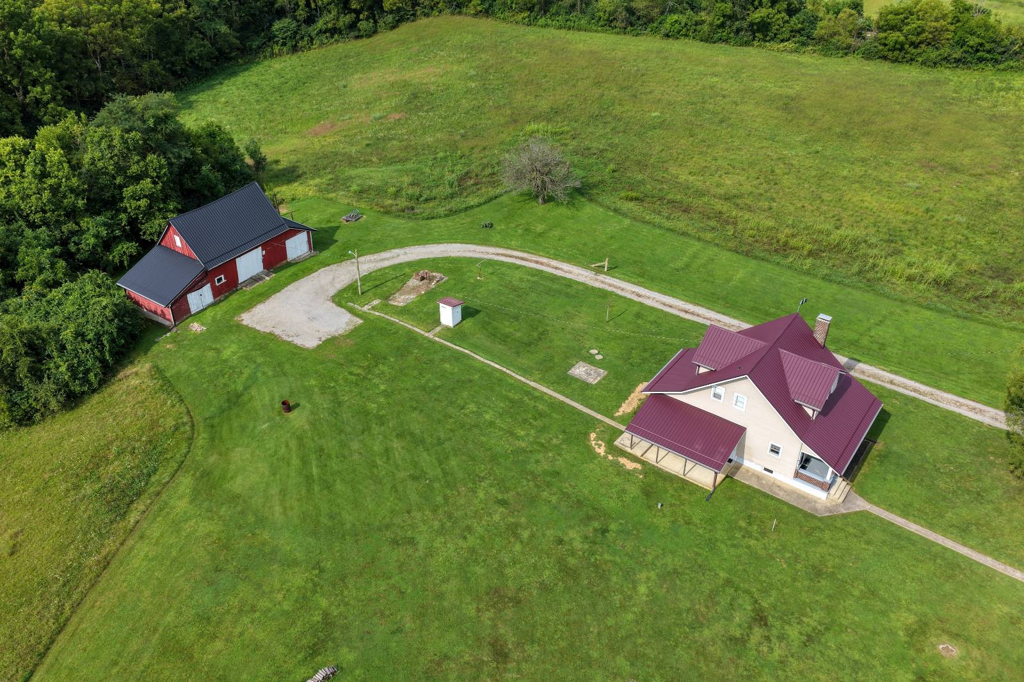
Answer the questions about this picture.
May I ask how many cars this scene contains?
0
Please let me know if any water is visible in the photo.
No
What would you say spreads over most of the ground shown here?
grass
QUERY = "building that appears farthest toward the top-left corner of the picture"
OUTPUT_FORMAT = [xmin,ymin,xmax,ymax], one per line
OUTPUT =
[117,180,317,327]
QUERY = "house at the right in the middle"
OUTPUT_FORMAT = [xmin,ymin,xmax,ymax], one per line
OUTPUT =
[613,300,885,507]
